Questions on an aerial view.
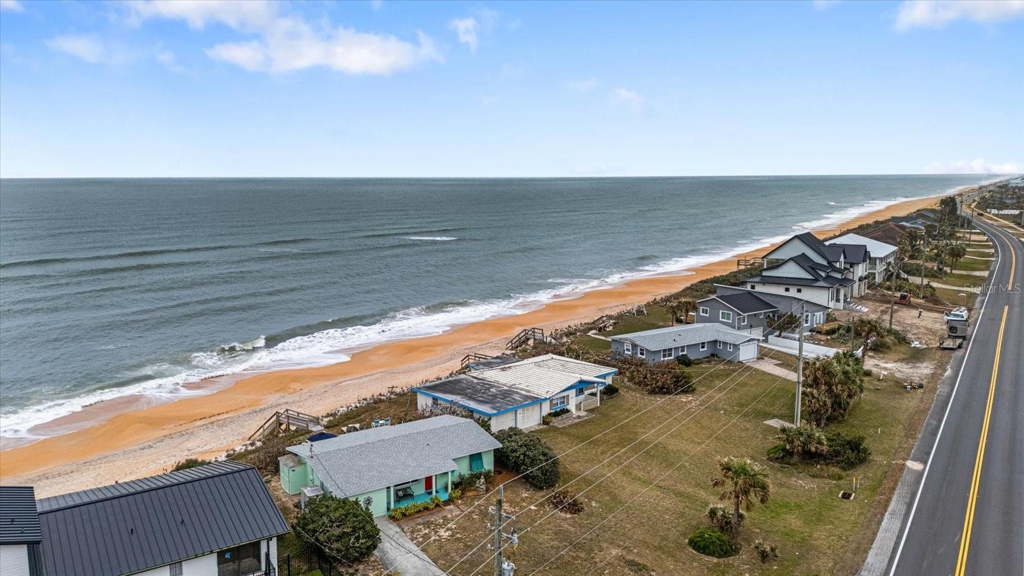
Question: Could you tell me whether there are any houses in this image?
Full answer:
Yes, there's a house down there.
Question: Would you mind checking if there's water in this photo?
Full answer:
Yes, water shows up in the scene.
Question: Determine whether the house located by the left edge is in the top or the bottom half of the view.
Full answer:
It is in the bottom half that the house located by the left edge appears.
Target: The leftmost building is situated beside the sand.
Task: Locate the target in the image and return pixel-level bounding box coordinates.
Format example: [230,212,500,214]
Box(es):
[0,455,287,576]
